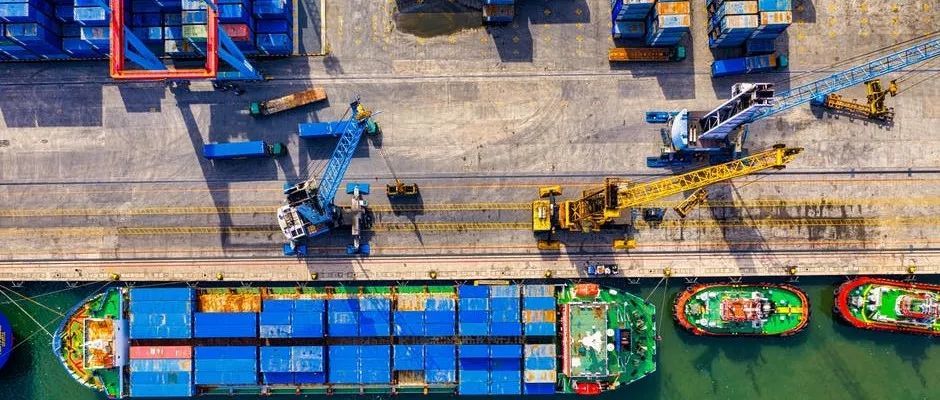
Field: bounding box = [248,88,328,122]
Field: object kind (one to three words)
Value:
truck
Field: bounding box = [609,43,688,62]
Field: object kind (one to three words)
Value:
vehicle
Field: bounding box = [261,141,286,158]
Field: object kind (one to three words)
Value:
vehicle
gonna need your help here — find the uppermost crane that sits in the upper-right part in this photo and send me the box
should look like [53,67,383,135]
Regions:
[643,29,940,167]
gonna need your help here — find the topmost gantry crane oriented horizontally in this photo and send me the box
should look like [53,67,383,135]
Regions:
[90,0,274,84]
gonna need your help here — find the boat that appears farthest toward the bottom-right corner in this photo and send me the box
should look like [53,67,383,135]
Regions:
[830,277,940,339]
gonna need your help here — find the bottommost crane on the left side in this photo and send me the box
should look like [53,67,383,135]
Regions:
[273,95,373,255]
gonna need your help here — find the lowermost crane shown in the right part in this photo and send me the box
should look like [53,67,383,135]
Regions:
[530,139,806,250]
